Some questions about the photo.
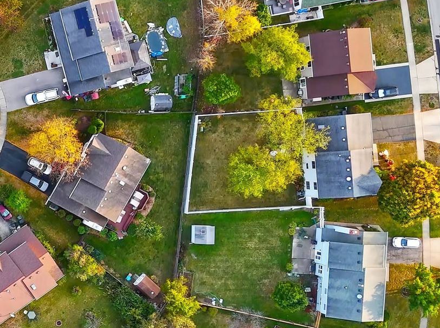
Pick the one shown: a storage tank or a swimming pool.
swimming pool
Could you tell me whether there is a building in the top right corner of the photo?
Yes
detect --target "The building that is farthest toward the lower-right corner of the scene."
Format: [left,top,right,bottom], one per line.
[312,225,387,323]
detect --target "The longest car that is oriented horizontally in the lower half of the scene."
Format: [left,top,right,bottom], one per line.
[390,236,421,249]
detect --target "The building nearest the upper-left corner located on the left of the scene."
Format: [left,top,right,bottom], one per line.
[51,0,135,95]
